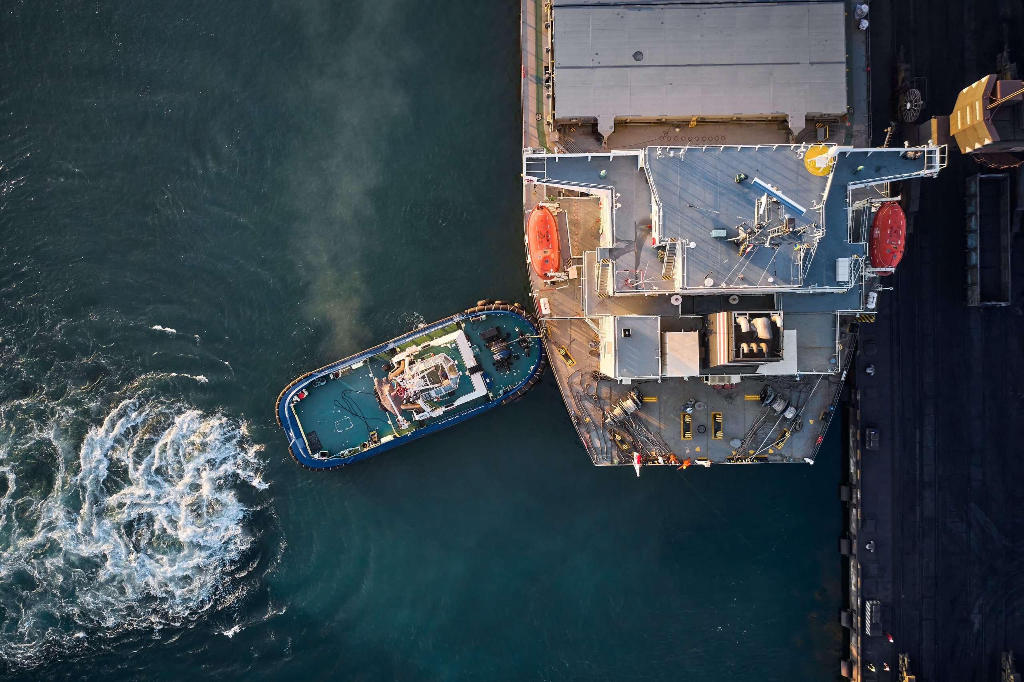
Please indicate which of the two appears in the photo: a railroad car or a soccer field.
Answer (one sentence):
Looking from above, you can make out a railroad car.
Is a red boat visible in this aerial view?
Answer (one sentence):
Yes, I can see a red boat in this picture.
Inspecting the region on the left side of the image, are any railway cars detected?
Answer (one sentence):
No, no railway car is visible on the left side of the image.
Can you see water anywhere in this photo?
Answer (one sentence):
Yes, water can be seen from above here.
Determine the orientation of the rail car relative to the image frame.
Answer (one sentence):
From this overhead view, the rail car appears to run from top to bottom.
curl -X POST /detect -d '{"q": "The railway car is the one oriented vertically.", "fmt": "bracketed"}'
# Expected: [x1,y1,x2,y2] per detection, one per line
[963,170,1011,314]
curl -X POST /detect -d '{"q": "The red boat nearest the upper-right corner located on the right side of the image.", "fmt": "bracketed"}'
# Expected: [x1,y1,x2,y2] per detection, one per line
[869,201,906,277]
